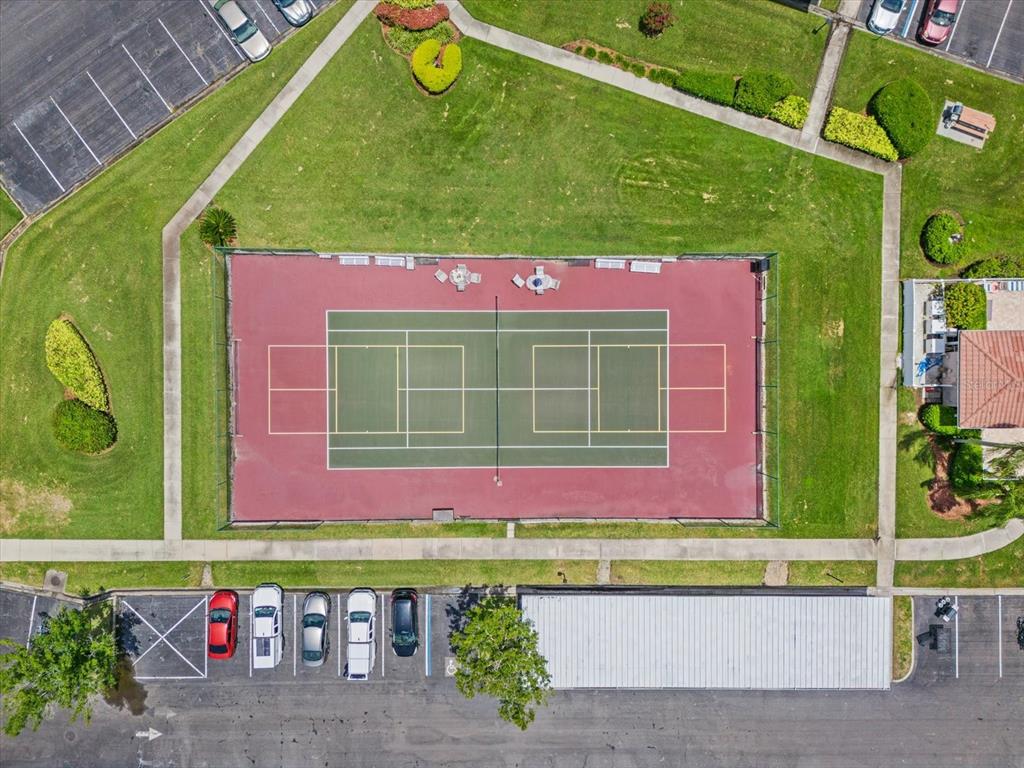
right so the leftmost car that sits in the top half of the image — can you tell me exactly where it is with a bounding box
[209,0,269,62]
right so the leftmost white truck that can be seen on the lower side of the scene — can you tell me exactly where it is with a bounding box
[248,584,287,670]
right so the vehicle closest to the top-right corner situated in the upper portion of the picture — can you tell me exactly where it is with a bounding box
[919,0,963,48]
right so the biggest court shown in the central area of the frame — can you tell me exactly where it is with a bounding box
[227,252,768,525]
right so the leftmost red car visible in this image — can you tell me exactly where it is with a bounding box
[205,590,239,659]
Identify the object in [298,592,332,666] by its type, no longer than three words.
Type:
car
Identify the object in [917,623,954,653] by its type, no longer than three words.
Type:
trailer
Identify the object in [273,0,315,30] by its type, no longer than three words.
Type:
car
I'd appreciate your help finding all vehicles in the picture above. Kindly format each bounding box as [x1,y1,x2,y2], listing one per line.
[388,588,421,655]
[273,0,315,30]
[248,584,287,670]
[298,592,332,666]
[209,0,269,62]
[205,590,239,659]
[866,0,905,35]
[342,588,379,679]
[919,0,963,48]
[936,595,960,621]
